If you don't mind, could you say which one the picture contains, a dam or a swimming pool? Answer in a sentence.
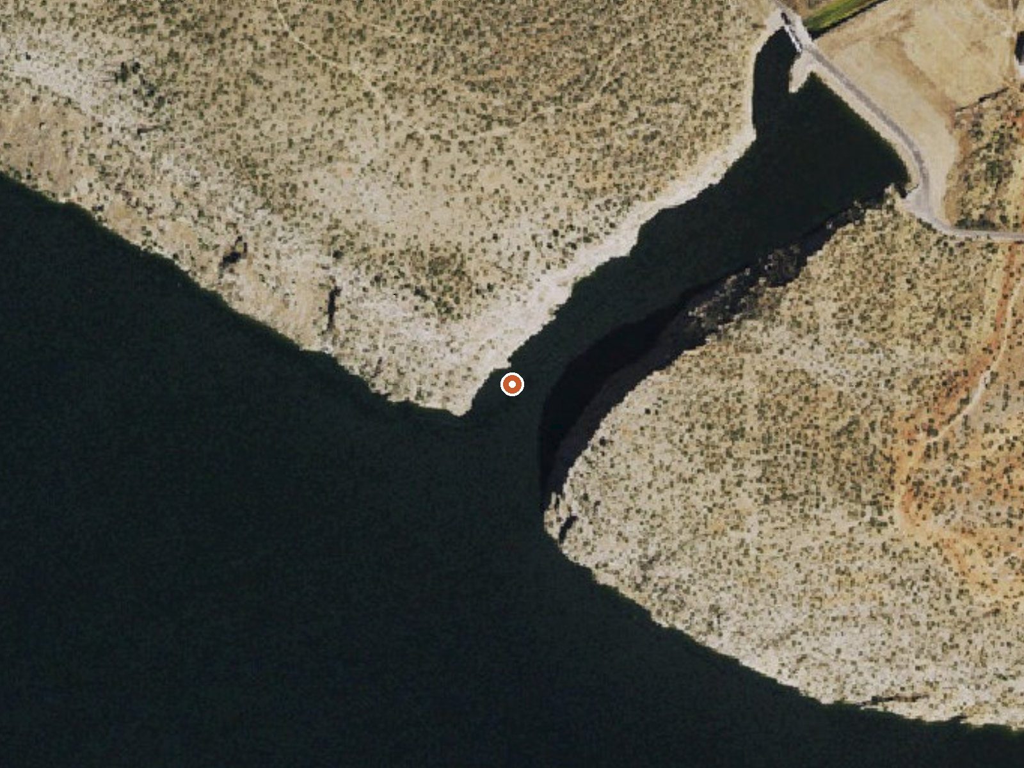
This aerial view contains a dam.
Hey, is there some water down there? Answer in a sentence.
Yes, water shows up in the scene.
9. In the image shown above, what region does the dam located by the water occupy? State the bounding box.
[795,24,946,213]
